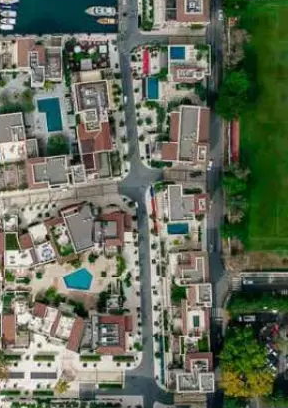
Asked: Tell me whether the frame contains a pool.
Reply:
Yes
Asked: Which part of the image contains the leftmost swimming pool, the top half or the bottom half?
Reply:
top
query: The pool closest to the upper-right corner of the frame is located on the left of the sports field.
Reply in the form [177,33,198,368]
[170,47,187,60]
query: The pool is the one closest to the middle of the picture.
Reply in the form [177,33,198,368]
[167,222,190,235]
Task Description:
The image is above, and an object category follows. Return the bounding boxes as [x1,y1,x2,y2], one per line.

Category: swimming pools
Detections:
[62,266,95,292]
[147,77,160,100]
[36,95,65,134]
[167,222,190,235]
[170,47,187,60]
